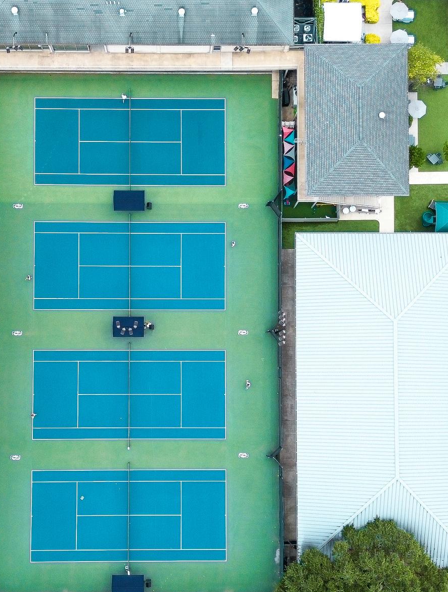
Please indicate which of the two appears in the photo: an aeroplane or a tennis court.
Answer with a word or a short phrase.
tennis court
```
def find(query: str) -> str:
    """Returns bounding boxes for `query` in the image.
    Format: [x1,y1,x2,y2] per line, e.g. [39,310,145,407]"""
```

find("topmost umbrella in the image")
[390,2,408,21]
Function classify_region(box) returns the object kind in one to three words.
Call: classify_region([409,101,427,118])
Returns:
umbrella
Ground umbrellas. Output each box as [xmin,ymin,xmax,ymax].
[390,30,408,43]
[390,2,408,21]
[409,101,427,118]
